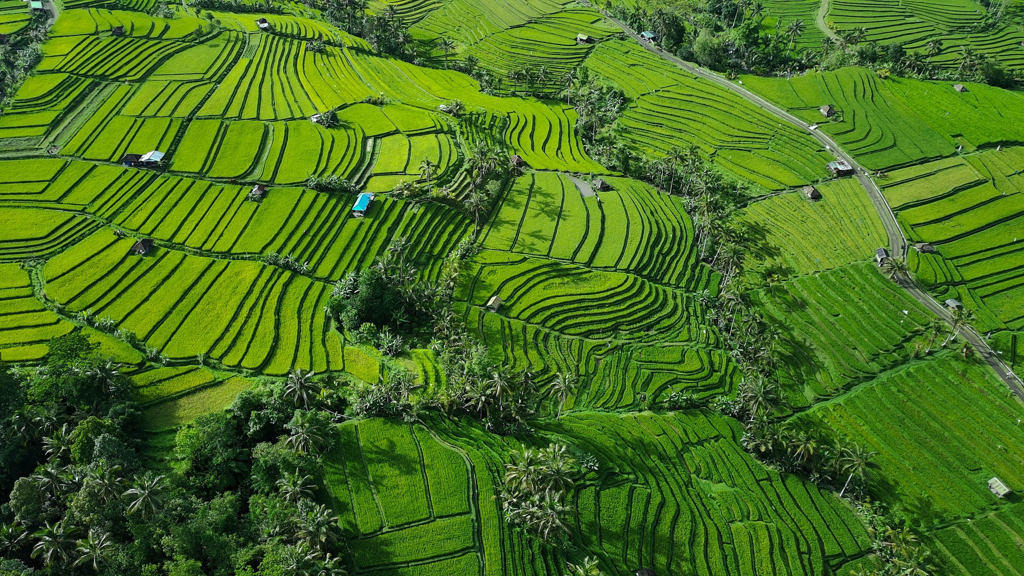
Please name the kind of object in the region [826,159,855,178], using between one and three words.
shed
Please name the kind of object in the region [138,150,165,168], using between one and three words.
shed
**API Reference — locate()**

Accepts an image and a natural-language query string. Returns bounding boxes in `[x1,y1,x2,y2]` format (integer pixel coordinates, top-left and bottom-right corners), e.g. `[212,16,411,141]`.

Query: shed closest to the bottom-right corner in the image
[985,476,1016,500]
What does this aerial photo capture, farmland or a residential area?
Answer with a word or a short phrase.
farmland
